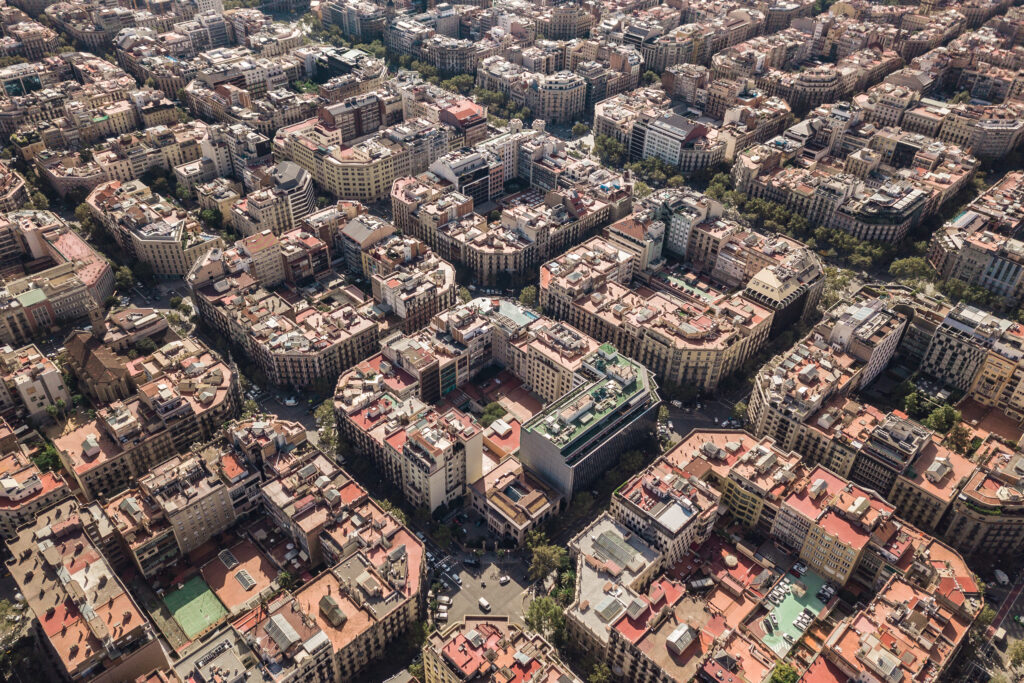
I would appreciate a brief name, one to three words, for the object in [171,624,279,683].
building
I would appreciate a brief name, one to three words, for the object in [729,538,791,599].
building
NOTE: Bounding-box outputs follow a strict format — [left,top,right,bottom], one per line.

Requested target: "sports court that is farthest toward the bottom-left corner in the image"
[161,574,234,647]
